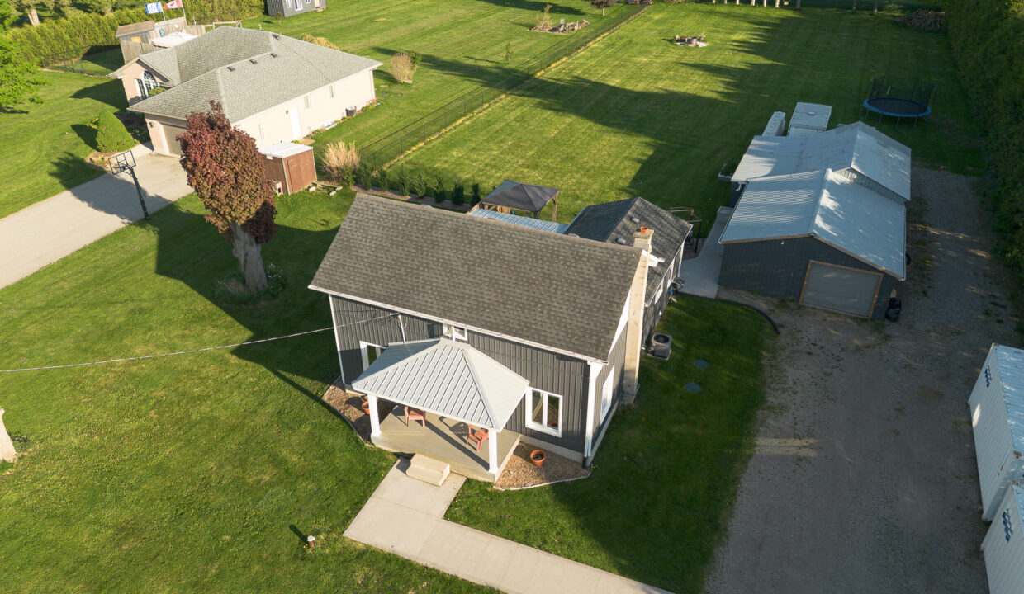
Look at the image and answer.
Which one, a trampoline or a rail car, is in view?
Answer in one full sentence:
Visible in the photo is a trampoline.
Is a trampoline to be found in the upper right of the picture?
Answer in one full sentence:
Yes, in the upper right of the picture there is a trampoline.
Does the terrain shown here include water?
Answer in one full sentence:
No, there's no water in this view.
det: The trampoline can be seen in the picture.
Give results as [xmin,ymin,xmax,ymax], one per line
[863,75,940,129]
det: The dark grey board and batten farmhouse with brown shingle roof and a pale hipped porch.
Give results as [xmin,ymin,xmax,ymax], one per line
[304,194,693,487]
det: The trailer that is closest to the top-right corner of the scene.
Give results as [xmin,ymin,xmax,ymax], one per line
[789,103,831,136]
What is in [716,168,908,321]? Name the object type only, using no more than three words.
building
